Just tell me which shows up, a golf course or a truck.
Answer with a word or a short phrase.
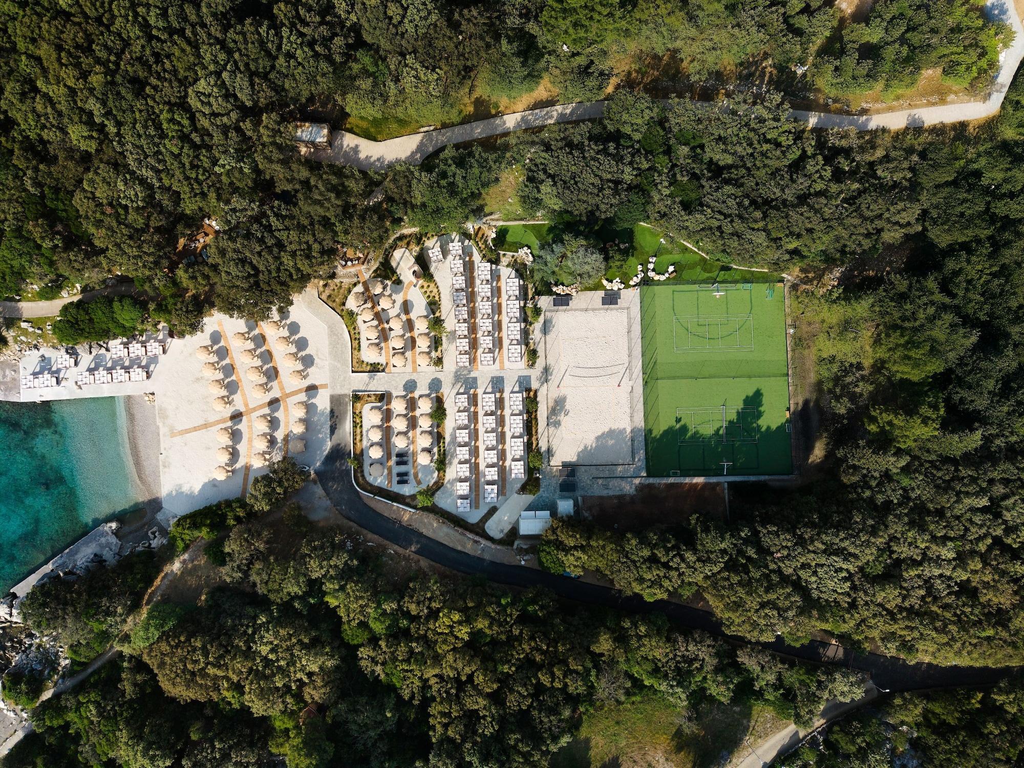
golf course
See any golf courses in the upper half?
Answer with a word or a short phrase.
Yes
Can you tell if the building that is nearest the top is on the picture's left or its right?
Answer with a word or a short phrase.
left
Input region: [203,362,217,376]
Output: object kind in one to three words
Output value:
umbrella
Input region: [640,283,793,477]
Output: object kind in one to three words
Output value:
sports court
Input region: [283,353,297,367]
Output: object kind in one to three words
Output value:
umbrella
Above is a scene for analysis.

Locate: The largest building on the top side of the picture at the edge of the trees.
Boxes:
[295,123,332,148]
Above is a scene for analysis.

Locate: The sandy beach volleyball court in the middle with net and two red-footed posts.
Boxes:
[545,308,634,467]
